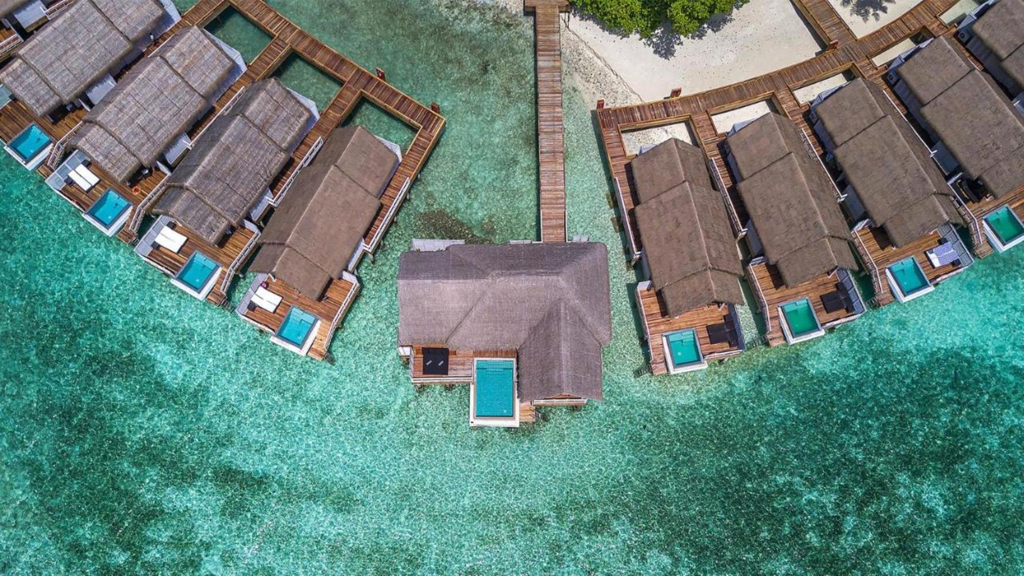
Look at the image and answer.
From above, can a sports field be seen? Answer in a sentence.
No, the frame has no sports field in it.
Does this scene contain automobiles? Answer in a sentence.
No, the photo shows no automobile.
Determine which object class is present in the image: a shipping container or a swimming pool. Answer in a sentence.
Looking from above, you can make out a swimming pool.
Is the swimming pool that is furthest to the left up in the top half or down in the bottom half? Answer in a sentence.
The swimming pool that is furthest to the left sits in the top half of the picture.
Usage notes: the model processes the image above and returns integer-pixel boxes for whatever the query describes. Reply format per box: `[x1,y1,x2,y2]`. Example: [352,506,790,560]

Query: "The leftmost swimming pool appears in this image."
[2,122,56,173]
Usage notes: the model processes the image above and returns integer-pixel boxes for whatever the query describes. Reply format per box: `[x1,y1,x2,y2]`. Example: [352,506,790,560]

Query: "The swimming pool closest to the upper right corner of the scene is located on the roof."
[978,205,1024,255]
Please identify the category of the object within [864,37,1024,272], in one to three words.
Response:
house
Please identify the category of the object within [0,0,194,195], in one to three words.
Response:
house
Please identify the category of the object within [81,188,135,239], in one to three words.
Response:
swimming pool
